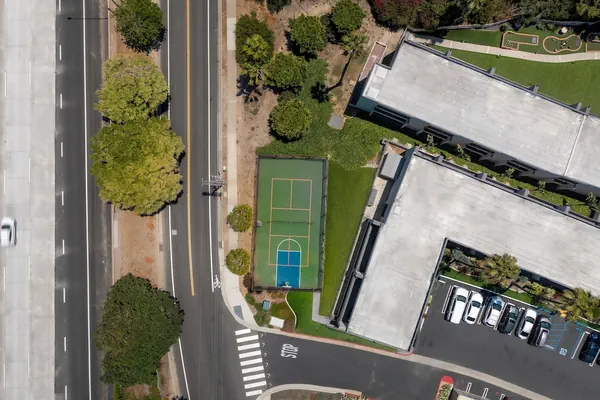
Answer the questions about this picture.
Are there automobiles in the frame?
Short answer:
Yes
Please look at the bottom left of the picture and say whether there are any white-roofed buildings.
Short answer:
No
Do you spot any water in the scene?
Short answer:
No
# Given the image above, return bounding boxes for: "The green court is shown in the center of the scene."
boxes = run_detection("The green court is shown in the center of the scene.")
[253,159,326,290]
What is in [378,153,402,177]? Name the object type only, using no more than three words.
shed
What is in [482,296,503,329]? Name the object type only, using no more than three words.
car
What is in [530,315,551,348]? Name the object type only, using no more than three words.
car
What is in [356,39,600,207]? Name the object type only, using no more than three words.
building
